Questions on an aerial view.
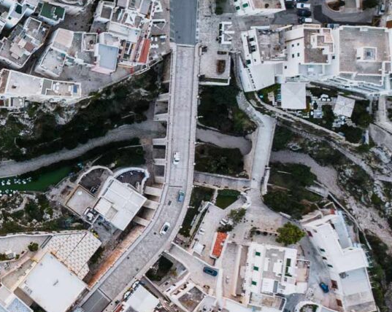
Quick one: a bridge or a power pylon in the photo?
bridge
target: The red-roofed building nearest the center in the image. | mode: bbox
[206,231,229,257]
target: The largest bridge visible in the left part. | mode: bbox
[93,45,203,301]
